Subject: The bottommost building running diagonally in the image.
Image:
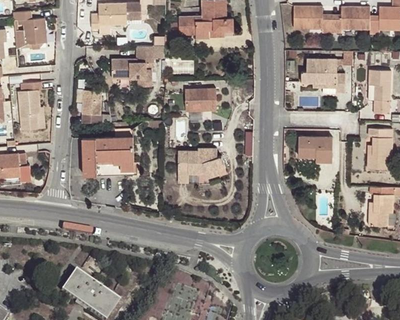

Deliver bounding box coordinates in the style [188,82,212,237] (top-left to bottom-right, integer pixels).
[62,266,120,317]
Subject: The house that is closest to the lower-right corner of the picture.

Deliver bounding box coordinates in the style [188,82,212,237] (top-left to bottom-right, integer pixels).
[368,186,400,227]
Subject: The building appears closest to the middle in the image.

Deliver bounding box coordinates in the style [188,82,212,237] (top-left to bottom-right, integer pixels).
[177,147,228,183]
